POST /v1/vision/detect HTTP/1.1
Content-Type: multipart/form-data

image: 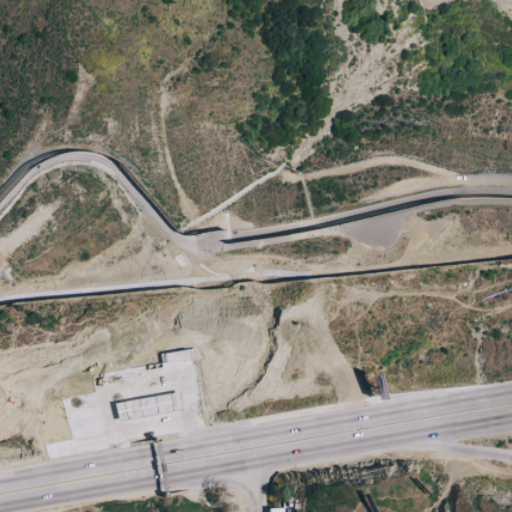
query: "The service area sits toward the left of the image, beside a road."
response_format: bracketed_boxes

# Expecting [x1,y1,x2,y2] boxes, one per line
[46,358,246,458]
